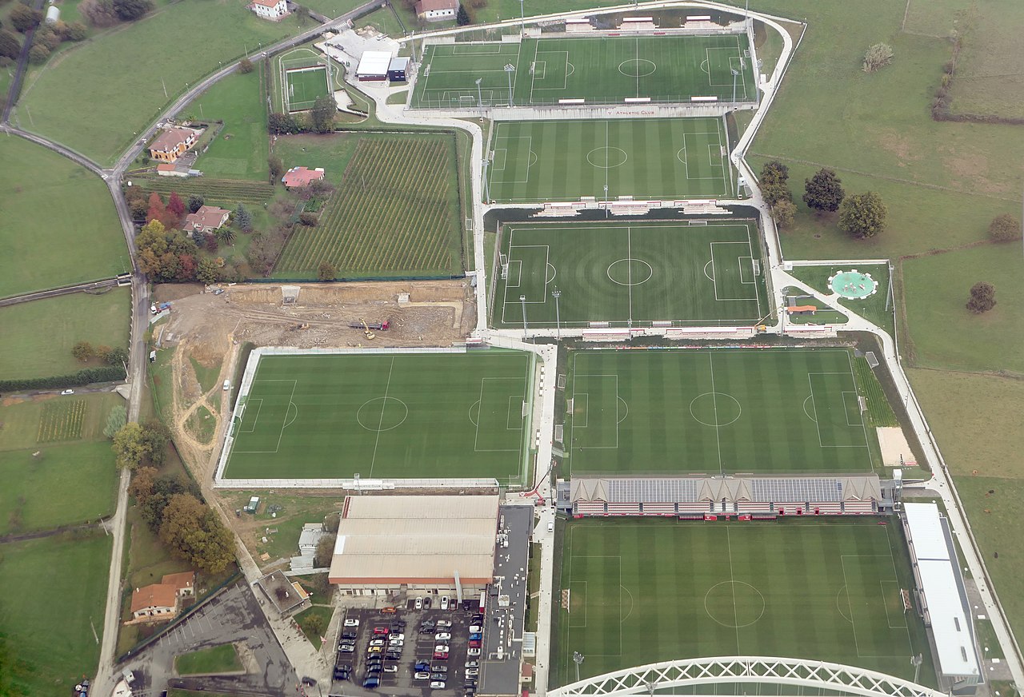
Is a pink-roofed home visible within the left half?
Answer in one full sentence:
Yes, within the left half there is a pink-roofed home.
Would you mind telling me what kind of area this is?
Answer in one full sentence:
The area seen from above is a sports ground.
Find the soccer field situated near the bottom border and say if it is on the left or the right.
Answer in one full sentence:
The soccer field situated near the bottom border appears in the right half of the scene.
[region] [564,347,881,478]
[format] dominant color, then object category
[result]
green soccer field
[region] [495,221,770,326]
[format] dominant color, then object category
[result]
green soccer field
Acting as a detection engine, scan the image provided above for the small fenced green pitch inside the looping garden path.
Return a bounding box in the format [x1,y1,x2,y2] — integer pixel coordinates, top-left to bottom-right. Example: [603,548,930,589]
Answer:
[288,61,330,112]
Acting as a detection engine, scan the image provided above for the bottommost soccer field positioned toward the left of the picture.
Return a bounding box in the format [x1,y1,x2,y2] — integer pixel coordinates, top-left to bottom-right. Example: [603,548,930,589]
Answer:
[217,351,537,482]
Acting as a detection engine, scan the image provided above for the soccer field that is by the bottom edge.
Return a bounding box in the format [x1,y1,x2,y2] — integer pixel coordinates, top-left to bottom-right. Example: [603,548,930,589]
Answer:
[552,520,943,697]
